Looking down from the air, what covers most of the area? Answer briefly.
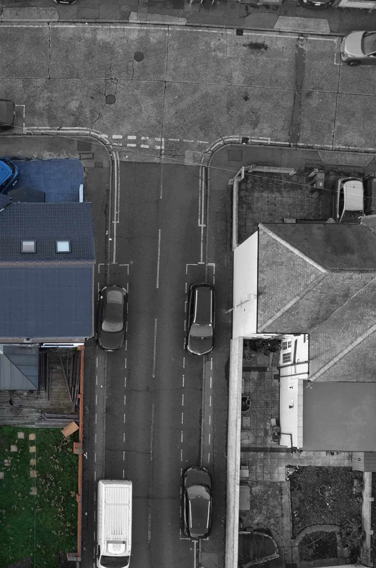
paved ground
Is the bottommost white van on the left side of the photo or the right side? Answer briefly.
left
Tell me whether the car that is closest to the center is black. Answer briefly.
Yes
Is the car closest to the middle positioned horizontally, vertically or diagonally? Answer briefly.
vertically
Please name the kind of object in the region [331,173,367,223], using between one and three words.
car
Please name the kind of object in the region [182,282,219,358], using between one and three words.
car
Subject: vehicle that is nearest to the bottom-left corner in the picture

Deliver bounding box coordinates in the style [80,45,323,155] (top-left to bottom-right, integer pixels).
[95,478,134,568]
